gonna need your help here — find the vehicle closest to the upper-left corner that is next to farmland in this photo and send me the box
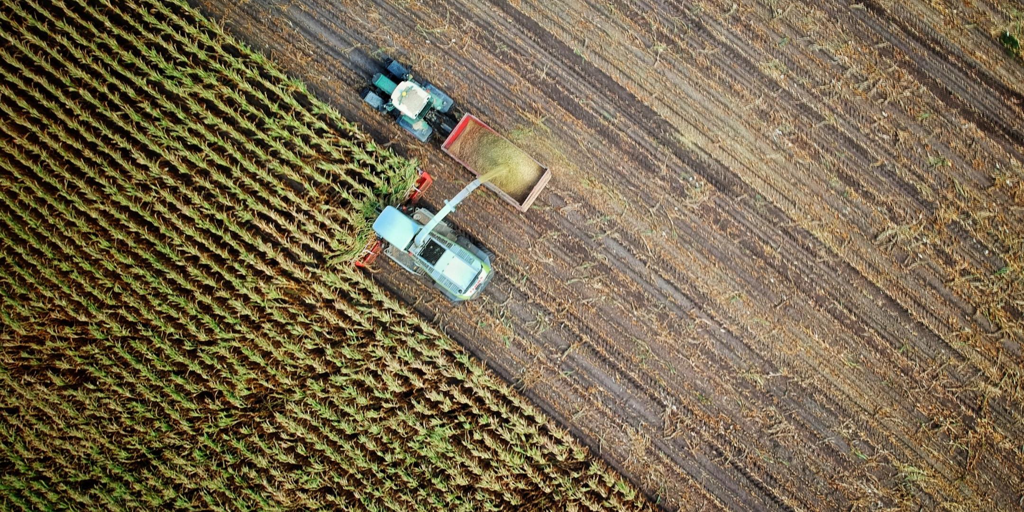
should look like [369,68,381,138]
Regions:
[362,60,455,148]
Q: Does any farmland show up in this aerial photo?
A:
Yes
